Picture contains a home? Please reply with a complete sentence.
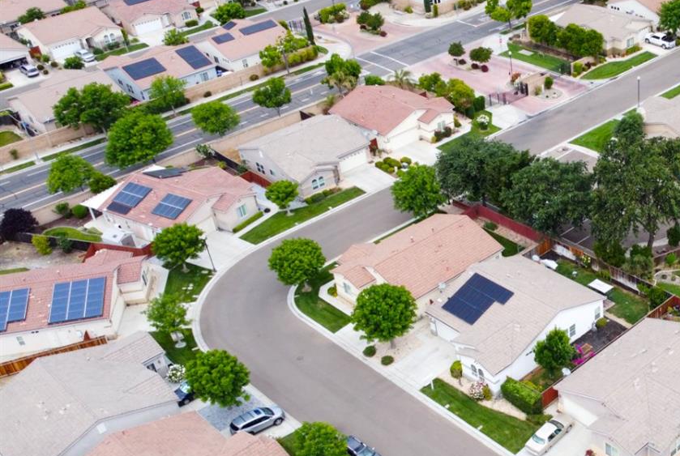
Yes, a home is visible in the scene.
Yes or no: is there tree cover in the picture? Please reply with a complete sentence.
Yes, there's tree cover in this view.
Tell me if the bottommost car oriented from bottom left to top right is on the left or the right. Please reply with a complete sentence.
The bottommost car oriented from bottom left to top right is on the right side of the image.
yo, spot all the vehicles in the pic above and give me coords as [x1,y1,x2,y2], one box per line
[659,34,679,49]
[523,414,573,456]
[74,46,94,59]
[176,380,198,410]
[225,408,285,436]
[343,430,380,456]
[14,58,40,76]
